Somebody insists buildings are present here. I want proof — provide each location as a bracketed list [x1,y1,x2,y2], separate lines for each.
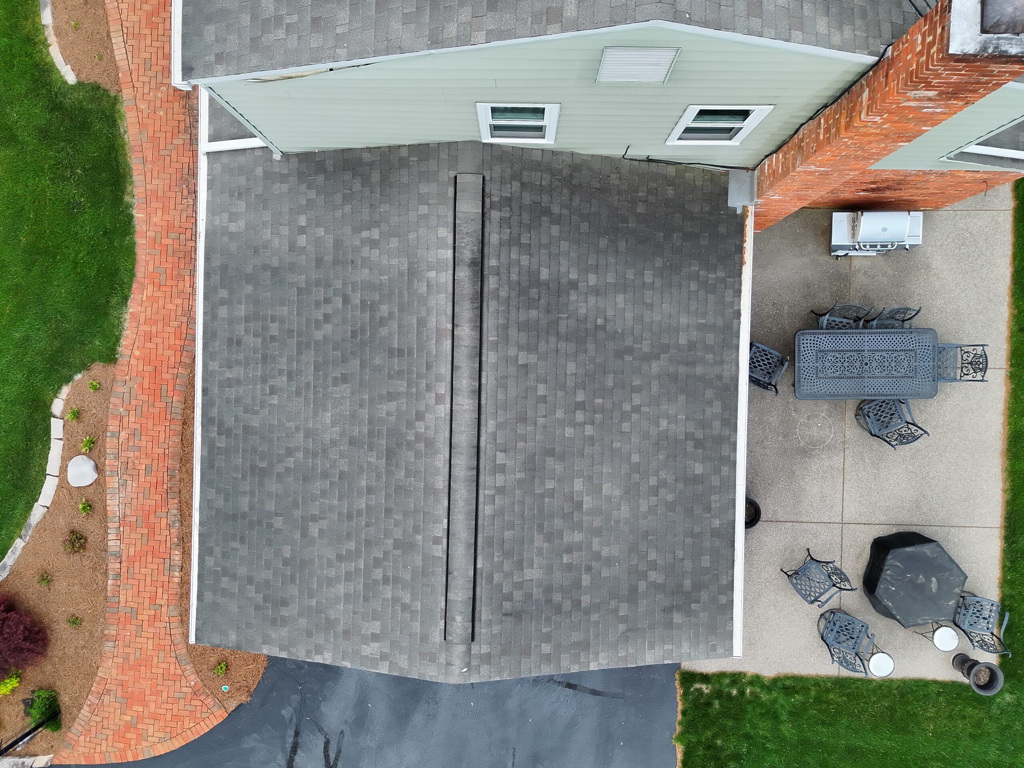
[171,0,1024,686]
